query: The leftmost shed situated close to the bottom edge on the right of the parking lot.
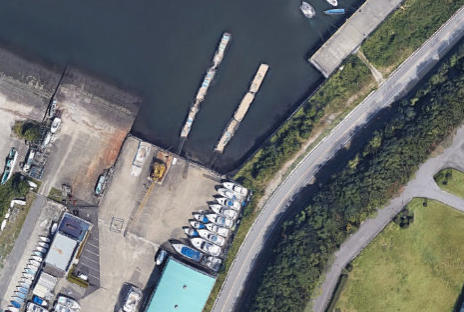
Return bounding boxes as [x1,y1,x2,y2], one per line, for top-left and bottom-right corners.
[145,256,217,312]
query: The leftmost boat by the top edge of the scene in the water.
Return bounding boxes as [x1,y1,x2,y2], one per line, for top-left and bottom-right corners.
[302,2,316,20]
